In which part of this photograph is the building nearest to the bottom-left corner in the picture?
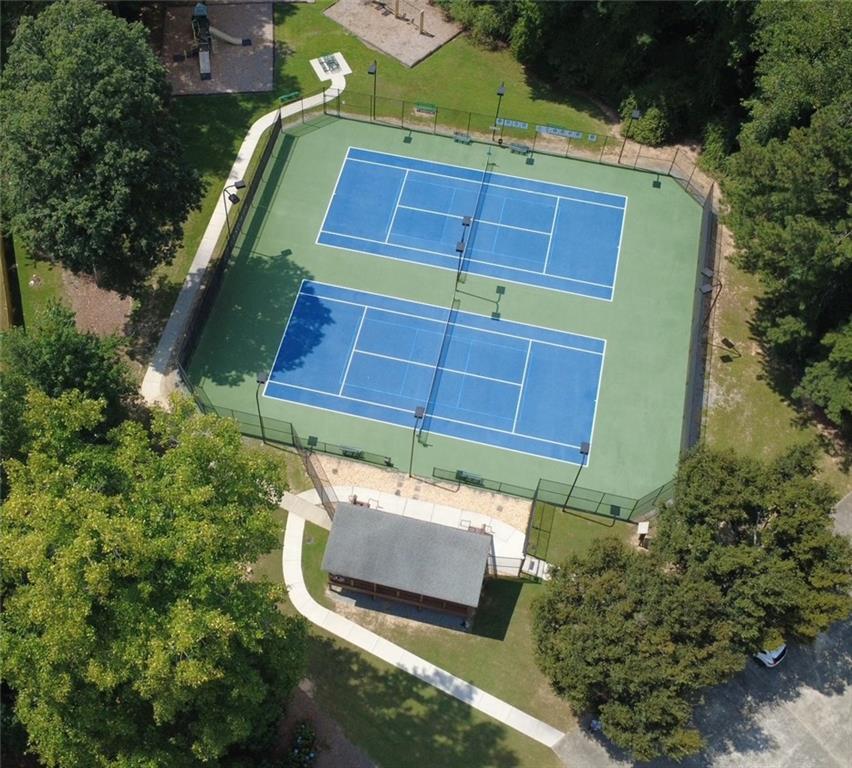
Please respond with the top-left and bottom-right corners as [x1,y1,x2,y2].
[321,501,492,620]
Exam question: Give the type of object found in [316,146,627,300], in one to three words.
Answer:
tennis court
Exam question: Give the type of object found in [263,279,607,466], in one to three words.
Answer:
tennis court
